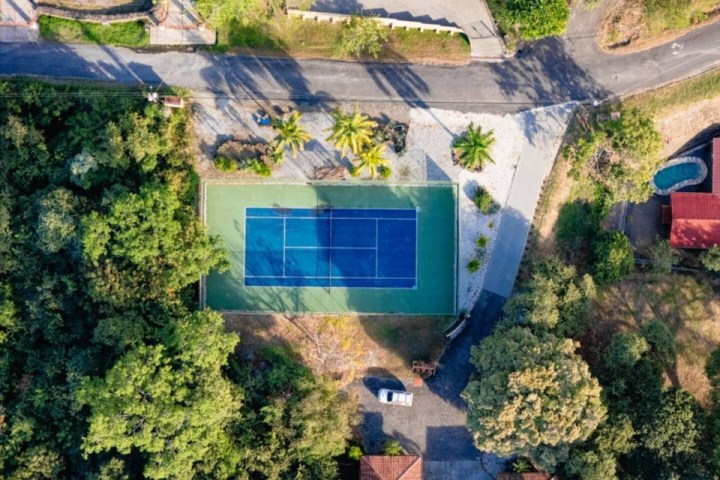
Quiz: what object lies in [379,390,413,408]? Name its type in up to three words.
car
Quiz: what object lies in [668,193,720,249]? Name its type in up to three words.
house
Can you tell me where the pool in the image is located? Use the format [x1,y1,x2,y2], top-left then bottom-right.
[652,156,708,195]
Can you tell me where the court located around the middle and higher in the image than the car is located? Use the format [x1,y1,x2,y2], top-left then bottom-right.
[198,178,458,316]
